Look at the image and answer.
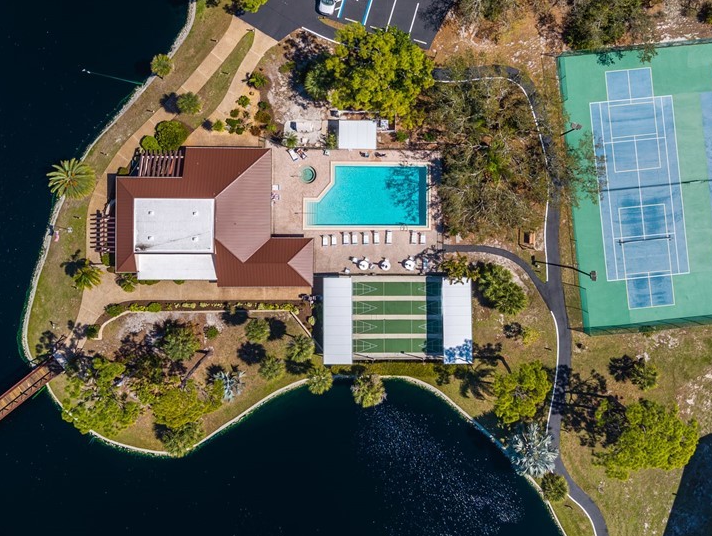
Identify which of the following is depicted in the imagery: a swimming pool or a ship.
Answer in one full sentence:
There is a swimming pool in the scene.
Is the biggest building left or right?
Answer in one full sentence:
The biggest building is on the left side of the image.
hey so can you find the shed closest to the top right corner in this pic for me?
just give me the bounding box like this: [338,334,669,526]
[338,120,377,149]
